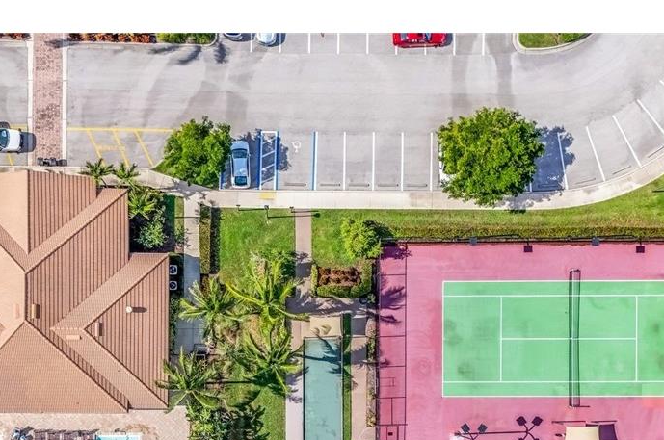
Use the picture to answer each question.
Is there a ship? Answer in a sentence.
No, no ship is visible in the view.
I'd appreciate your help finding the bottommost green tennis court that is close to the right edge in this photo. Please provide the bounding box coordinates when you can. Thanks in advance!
[442,281,664,397]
